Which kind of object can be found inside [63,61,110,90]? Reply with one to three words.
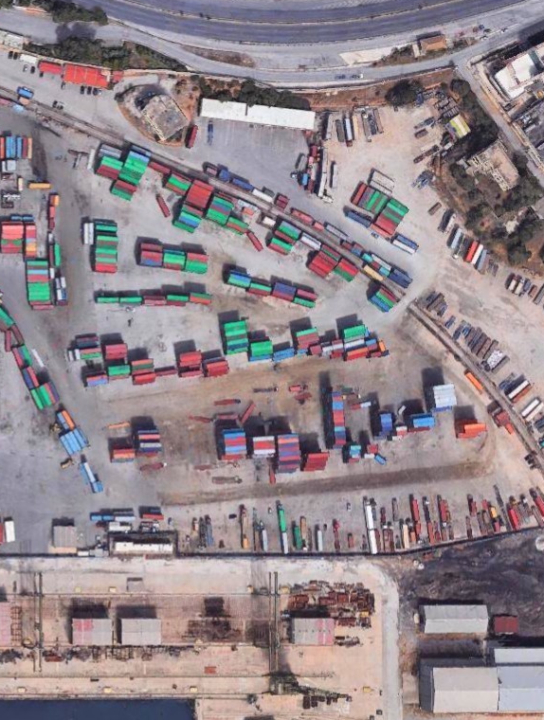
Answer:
building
